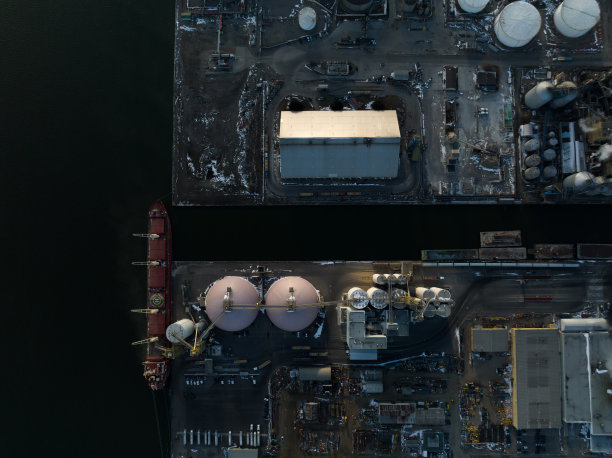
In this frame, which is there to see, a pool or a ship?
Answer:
ship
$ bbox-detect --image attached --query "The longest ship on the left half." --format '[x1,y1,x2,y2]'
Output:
[130,194,173,456]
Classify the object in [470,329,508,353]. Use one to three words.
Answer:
shed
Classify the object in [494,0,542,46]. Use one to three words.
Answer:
storage tank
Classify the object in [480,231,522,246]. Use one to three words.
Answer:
ship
